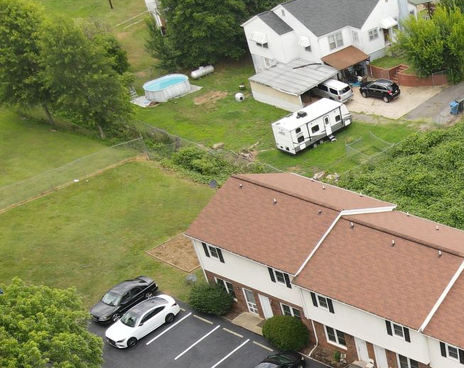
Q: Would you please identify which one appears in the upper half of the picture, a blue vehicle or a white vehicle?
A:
white vehicle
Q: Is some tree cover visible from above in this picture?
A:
Yes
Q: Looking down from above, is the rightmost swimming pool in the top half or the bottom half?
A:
top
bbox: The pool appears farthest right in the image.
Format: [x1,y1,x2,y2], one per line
[140,81,190,106]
